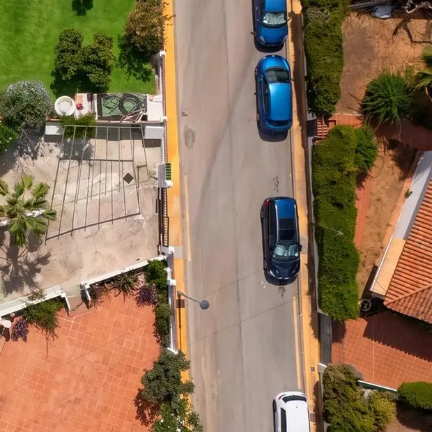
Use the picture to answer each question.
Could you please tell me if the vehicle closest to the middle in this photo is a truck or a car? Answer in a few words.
car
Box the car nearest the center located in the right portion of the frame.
[259,197,307,279]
